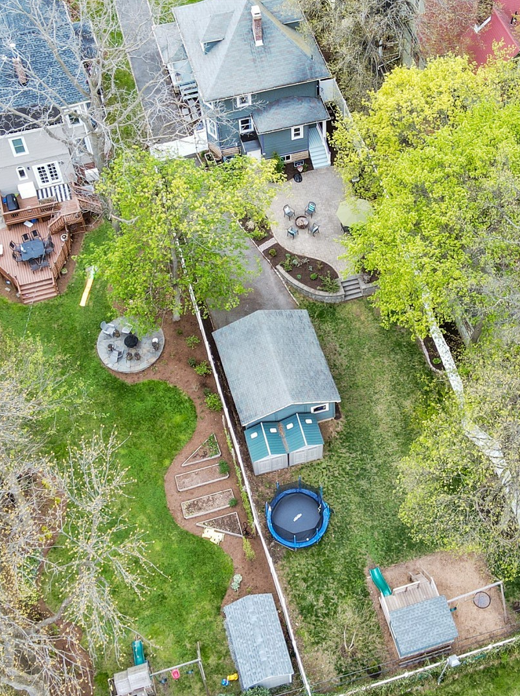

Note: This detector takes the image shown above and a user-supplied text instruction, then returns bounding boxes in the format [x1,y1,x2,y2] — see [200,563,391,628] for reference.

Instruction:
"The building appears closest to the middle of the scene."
[215,309,339,431]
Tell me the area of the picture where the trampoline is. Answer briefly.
bottom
